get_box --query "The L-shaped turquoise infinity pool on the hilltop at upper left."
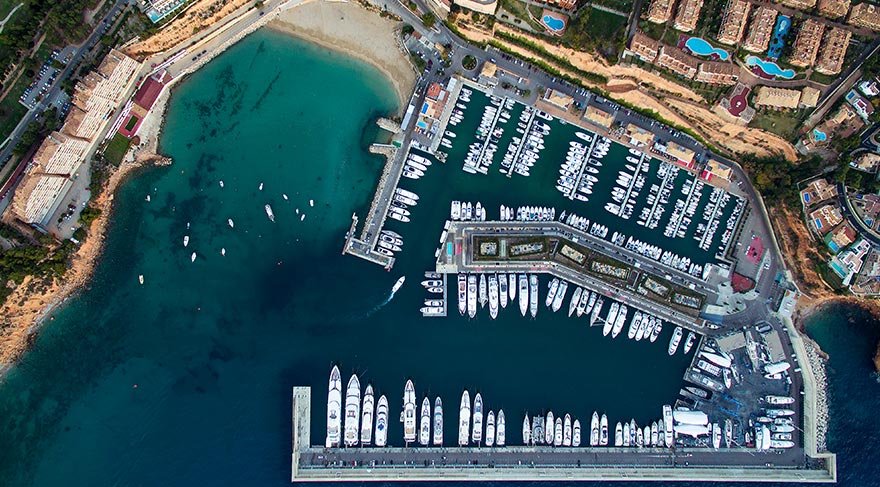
[146,0,194,22]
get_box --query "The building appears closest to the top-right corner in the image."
[846,1,880,34]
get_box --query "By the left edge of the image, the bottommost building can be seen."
[5,161,68,224]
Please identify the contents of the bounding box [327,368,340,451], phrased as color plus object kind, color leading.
white boat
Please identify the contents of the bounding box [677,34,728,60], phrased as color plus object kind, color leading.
blue swimming pool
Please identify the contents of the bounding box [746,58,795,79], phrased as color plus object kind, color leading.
blue swimming pool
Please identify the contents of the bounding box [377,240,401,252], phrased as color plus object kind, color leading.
white boat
